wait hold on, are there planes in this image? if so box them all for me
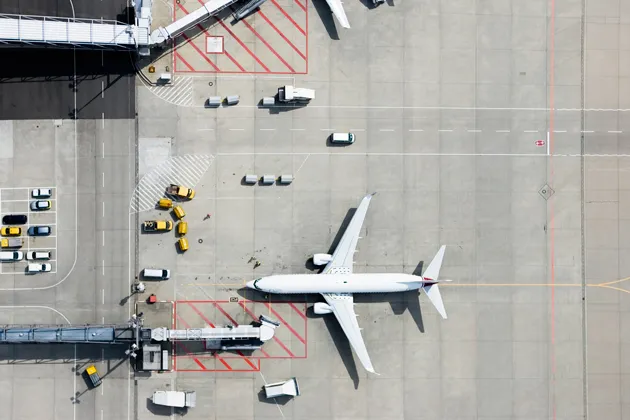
[326,0,349,28]
[246,192,449,375]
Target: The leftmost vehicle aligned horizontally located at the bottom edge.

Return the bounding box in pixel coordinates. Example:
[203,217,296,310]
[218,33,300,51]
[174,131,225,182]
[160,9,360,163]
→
[152,391,195,408]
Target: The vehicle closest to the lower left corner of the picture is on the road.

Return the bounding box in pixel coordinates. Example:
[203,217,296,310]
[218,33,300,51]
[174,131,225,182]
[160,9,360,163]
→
[85,365,104,389]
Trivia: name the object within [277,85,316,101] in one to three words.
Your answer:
vehicle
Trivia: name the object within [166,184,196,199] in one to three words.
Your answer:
vehicle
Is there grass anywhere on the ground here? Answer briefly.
No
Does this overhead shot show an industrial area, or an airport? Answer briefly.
airport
